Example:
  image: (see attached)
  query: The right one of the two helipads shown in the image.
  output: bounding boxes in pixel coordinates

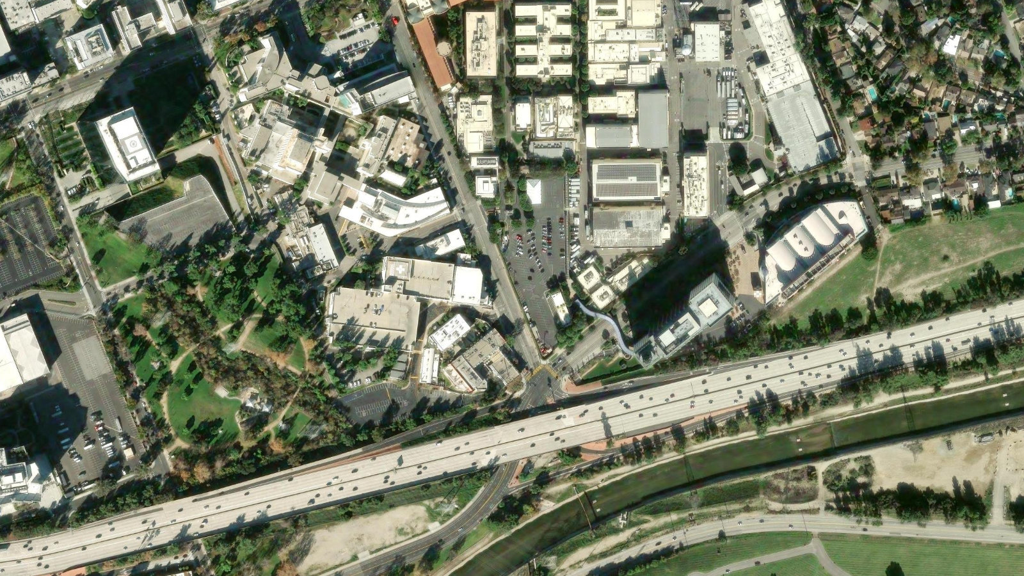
[392,262,408,276]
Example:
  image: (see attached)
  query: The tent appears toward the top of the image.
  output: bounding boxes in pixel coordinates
[526,180,541,204]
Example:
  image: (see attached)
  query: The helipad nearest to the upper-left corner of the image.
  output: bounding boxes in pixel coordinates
[124,136,143,153]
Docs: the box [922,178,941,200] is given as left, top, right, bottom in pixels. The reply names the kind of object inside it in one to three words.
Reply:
house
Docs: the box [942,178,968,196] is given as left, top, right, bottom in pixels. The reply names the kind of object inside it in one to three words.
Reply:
house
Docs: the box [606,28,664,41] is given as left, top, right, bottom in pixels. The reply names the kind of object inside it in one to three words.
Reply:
building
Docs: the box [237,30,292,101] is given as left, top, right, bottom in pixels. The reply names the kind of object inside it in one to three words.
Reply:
building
